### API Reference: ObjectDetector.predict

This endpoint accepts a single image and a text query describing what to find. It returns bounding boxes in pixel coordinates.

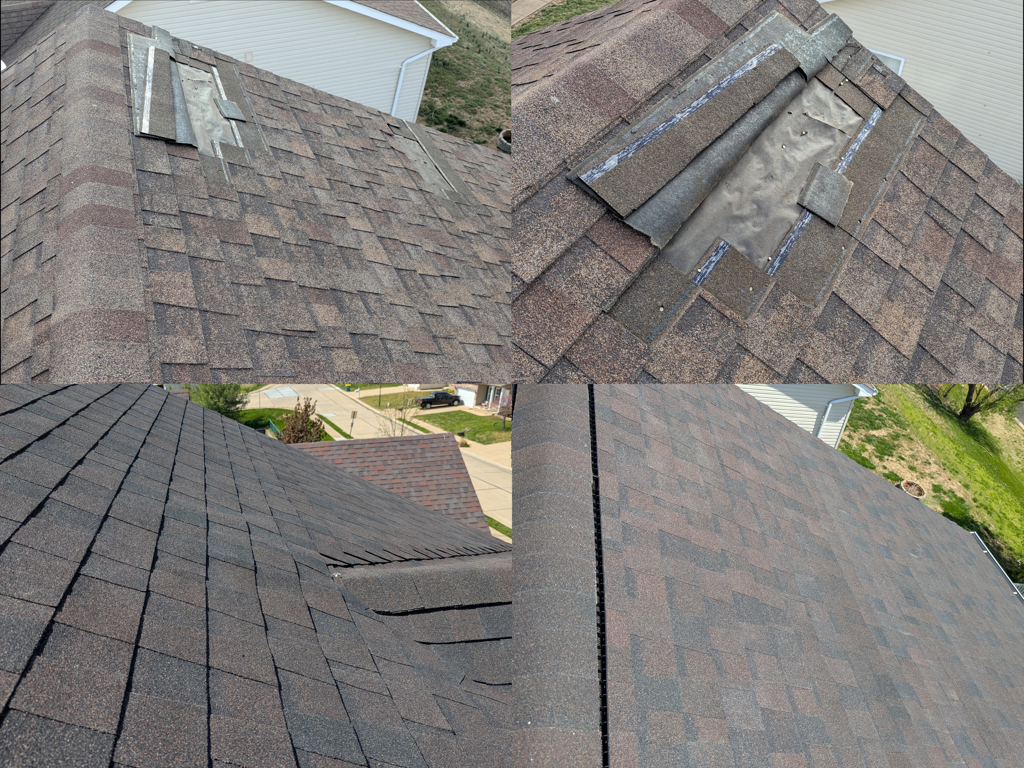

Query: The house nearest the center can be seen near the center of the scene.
[448,384,511,412]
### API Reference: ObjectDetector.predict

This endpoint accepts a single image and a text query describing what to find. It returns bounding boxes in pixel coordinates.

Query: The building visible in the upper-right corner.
[822,0,1024,165]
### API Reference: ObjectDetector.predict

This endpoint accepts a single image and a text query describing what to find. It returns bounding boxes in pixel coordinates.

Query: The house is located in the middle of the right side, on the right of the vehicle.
[735,384,882,448]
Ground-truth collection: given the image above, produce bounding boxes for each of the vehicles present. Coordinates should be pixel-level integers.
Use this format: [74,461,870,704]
[413,389,466,409]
